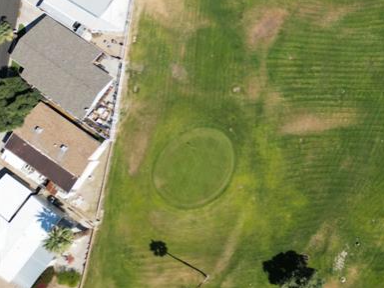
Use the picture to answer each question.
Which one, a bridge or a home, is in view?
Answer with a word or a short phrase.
home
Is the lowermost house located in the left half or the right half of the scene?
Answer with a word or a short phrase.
left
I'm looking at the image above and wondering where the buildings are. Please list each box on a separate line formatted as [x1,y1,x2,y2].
[11,14,118,119]
[0,172,66,288]
[38,0,131,33]
[2,102,107,195]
